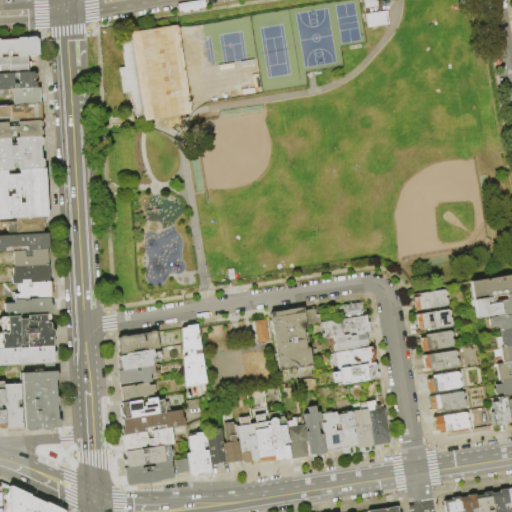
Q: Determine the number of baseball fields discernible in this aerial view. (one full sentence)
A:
The number of baseball fields here is 2.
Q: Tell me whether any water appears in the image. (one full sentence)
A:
No, no water is visible.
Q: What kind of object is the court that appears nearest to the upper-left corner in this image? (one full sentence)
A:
From above, the court that appears nearest to the upper-left corner can be identified as a tennis court.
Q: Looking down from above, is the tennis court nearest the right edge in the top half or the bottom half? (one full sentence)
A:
You can find the tennis court nearest the right edge in the top half.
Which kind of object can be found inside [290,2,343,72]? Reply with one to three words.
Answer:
basketball court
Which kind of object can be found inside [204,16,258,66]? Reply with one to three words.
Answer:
tennis court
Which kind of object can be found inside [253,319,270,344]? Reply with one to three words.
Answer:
house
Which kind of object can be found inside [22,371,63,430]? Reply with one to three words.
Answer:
building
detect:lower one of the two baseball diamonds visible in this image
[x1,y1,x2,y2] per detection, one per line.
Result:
[395,159,486,254]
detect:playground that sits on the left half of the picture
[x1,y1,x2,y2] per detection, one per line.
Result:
[138,195,194,286]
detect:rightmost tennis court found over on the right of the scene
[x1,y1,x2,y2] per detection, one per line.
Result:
[334,0,366,46]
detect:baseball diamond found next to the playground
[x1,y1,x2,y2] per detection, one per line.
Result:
[202,108,272,189]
